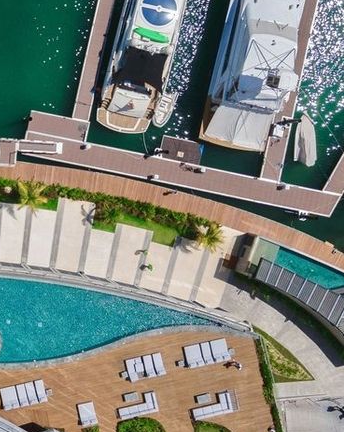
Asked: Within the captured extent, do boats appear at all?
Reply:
Yes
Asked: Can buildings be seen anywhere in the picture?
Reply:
Yes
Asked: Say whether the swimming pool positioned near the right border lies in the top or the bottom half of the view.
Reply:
bottom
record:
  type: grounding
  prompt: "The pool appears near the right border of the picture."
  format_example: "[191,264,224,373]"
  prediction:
[247,235,344,329]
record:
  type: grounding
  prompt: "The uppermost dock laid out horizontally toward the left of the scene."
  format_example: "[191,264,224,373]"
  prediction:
[27,111,89,142]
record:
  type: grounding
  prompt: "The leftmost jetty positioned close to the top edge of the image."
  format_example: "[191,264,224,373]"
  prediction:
[71,0,115,121]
